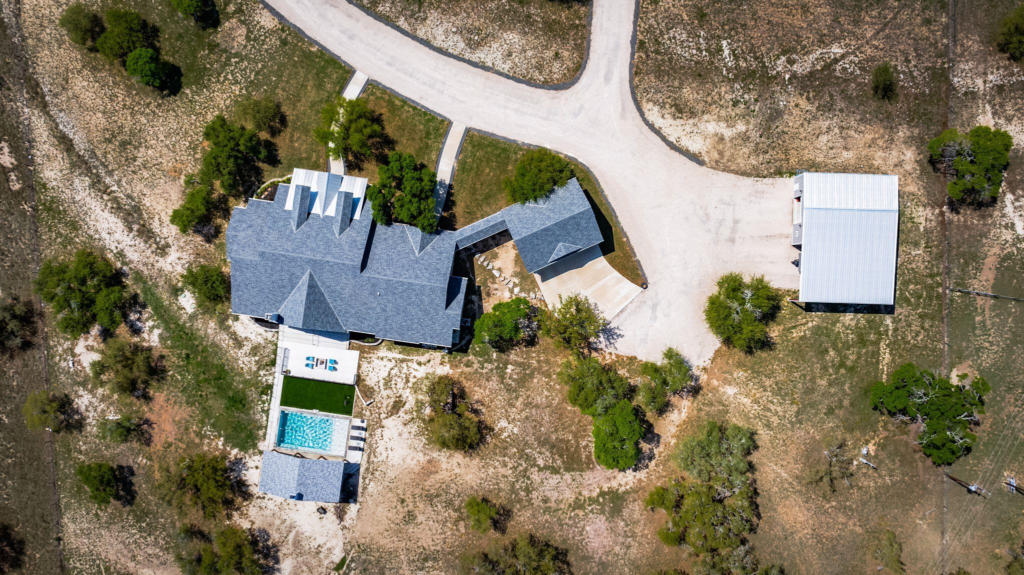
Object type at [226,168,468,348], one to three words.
house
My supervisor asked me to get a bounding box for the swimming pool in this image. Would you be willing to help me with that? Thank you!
[273,406,352,458]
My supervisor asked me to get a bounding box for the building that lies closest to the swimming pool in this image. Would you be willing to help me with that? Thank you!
[258,449,346,503]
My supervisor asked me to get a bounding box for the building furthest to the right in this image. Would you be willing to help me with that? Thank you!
[787,172,899,305]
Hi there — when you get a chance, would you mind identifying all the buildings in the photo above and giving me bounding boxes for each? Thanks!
[258,449,346,503]
[787,172,899,305]
[226,168,468,348]
[501,179,604,274]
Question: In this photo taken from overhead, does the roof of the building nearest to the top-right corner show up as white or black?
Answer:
white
